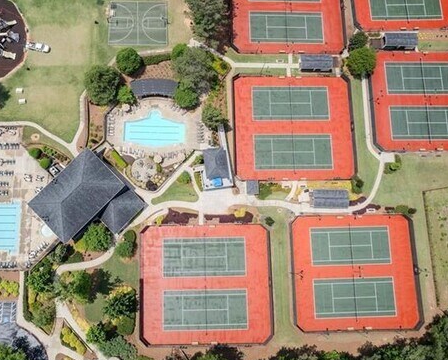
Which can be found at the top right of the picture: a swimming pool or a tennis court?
tennis court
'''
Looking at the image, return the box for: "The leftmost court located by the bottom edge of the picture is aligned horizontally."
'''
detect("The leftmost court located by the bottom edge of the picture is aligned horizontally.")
[140,282,270,345]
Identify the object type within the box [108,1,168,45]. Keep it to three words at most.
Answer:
basketball court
